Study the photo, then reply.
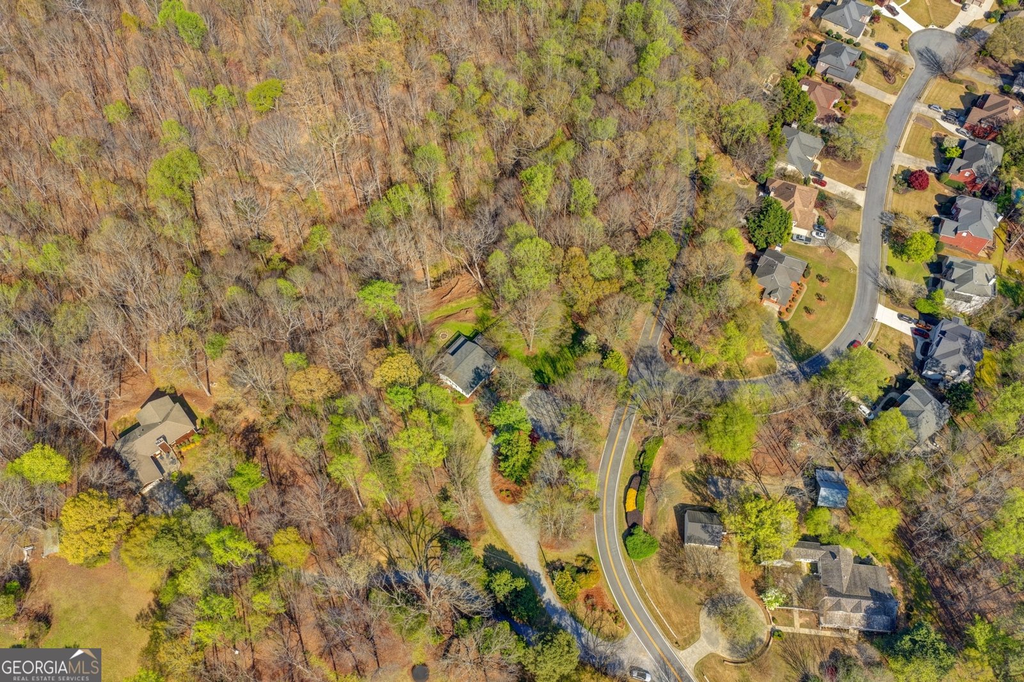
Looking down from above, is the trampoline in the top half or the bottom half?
bottom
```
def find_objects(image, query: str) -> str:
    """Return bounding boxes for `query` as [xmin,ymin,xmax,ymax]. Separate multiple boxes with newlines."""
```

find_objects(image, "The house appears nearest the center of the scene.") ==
[431,335,500,404]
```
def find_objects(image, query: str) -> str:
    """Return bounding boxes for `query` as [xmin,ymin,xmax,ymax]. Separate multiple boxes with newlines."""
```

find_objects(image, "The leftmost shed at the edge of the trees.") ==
[42,527,65,559]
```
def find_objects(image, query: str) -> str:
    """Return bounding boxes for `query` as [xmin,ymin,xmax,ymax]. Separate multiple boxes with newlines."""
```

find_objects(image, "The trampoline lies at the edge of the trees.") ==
[409,660,431,682]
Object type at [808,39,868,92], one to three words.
house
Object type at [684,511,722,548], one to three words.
building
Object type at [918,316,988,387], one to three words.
house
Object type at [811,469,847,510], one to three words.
barn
